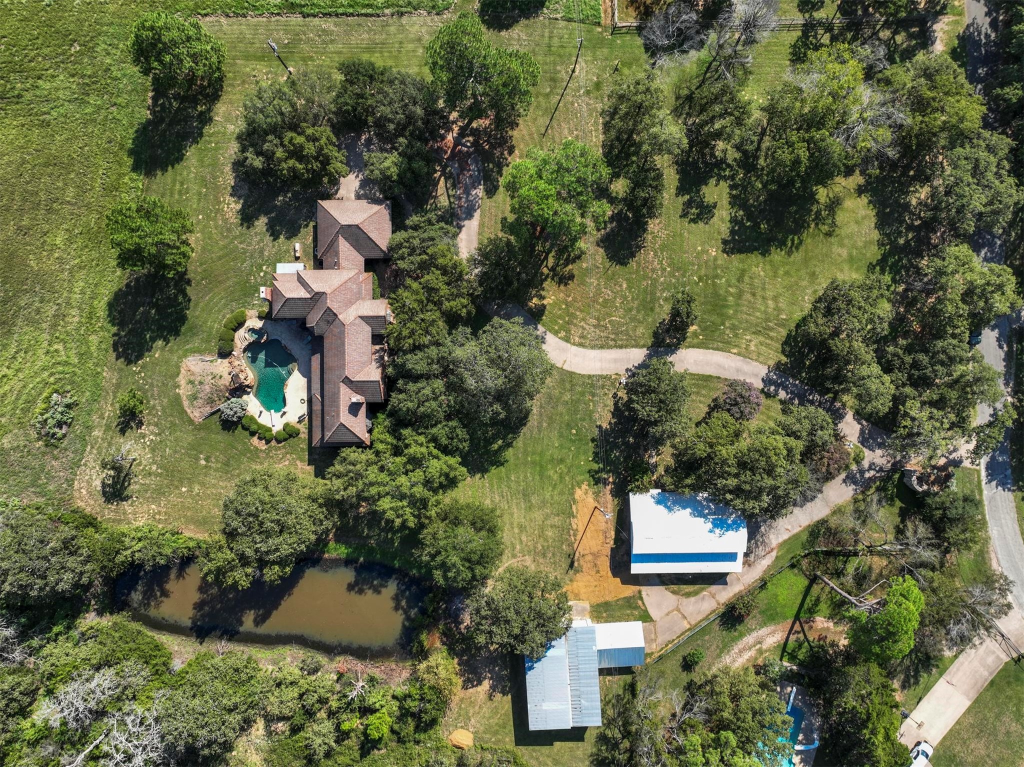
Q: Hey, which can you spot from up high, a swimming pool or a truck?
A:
swimming pool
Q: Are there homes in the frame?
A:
Yes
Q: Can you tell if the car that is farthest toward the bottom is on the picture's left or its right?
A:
right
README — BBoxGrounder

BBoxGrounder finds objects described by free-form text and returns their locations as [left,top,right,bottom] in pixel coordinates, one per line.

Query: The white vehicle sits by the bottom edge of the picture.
[912,746,934,767]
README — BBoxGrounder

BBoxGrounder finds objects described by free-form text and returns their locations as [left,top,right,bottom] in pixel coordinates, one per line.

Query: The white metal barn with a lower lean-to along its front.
[629,488,748,574]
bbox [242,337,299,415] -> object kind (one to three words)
swimming pool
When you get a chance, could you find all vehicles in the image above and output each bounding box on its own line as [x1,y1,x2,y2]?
[967,315,983,344]
[912,746,934,767]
